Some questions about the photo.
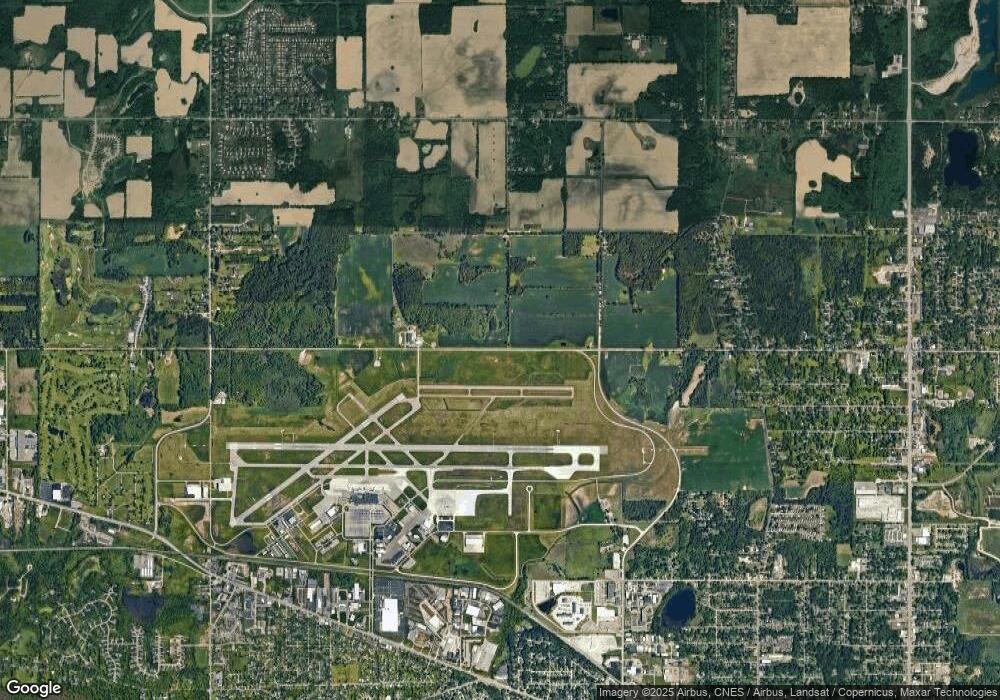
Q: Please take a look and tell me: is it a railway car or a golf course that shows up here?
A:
golf course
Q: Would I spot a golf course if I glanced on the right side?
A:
No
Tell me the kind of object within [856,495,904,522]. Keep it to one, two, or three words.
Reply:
building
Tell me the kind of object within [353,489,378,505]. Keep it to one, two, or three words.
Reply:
building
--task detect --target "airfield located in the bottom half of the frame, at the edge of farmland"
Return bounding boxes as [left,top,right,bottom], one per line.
[226,386,608,565]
